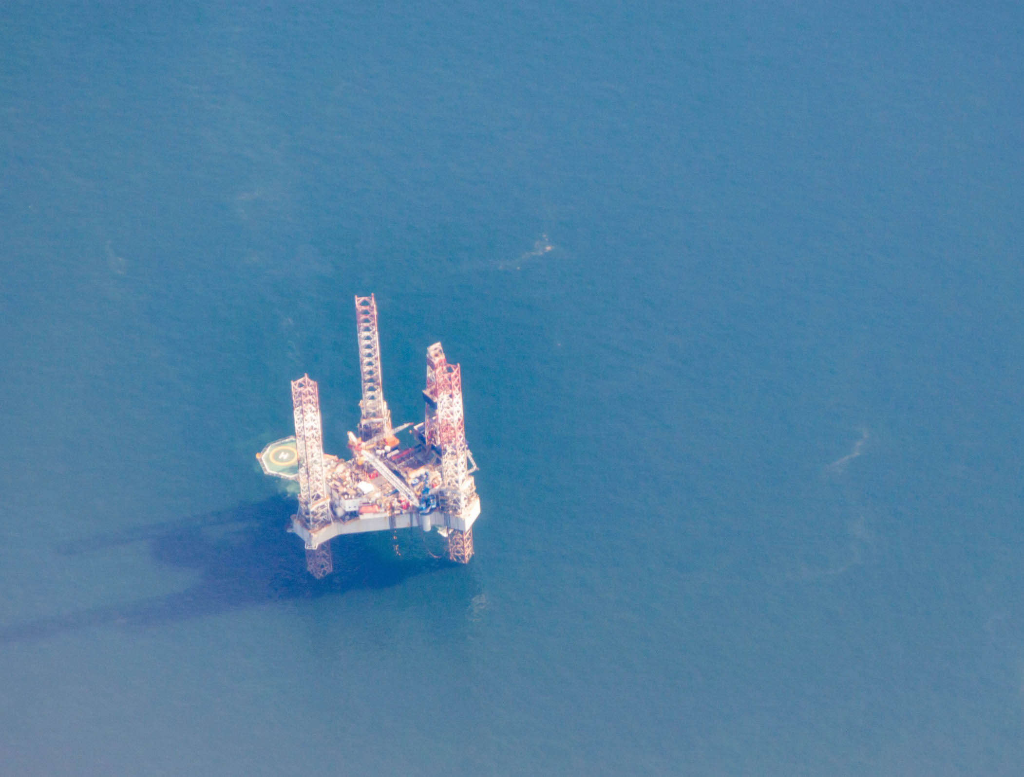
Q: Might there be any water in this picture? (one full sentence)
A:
Yes, water can be seen from above here.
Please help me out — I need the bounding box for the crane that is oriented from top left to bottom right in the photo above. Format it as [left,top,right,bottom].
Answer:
[360,450,438,532]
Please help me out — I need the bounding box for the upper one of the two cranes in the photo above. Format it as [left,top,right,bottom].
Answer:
[347,421,420,469]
